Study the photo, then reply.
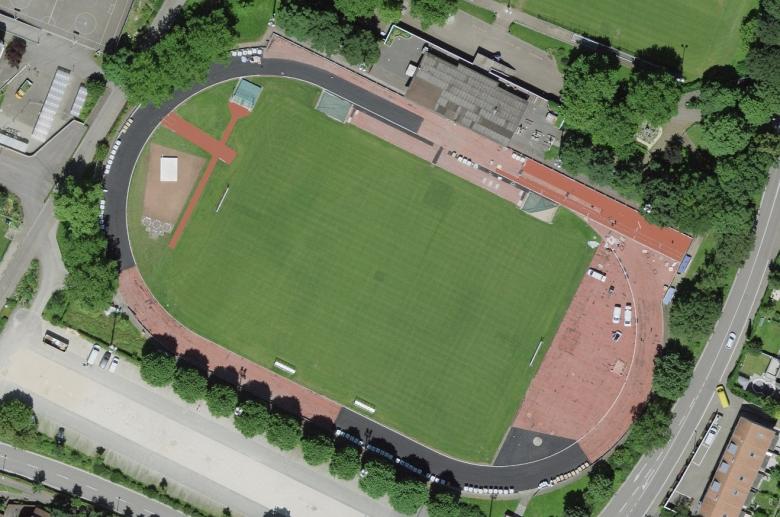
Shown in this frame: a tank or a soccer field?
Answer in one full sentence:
It is a soccer field that can be seen here.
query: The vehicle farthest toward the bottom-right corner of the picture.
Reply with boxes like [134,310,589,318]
[702,428,717,447]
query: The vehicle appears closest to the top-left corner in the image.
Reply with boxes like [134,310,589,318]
[17,79,32,97]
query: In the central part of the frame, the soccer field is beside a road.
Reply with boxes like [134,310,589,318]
[126,76,603,465]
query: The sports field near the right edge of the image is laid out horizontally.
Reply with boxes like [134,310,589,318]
[504,0,762,80]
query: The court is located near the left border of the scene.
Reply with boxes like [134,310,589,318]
[0,0,133,55]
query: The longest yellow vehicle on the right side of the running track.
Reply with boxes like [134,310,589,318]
[717,385,730,410]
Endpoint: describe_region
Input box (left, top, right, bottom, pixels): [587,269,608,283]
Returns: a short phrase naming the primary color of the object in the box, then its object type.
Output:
white vehicle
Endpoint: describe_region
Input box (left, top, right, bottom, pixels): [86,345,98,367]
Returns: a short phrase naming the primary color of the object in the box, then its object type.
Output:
white vehicle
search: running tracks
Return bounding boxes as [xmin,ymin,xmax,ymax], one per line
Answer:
[104,34,690,492]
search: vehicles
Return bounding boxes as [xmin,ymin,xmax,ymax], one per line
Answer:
[587,269,608,283]
[717,385,730,410]
[726,332,736,349]
[86,345,98,367]
[612,330,622,343]
[612,305,622,324]
[702,428,717,447]
[109,356,119,374]
[623,305,632,326]
[99,351,110,369]
[17,79,32,97]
